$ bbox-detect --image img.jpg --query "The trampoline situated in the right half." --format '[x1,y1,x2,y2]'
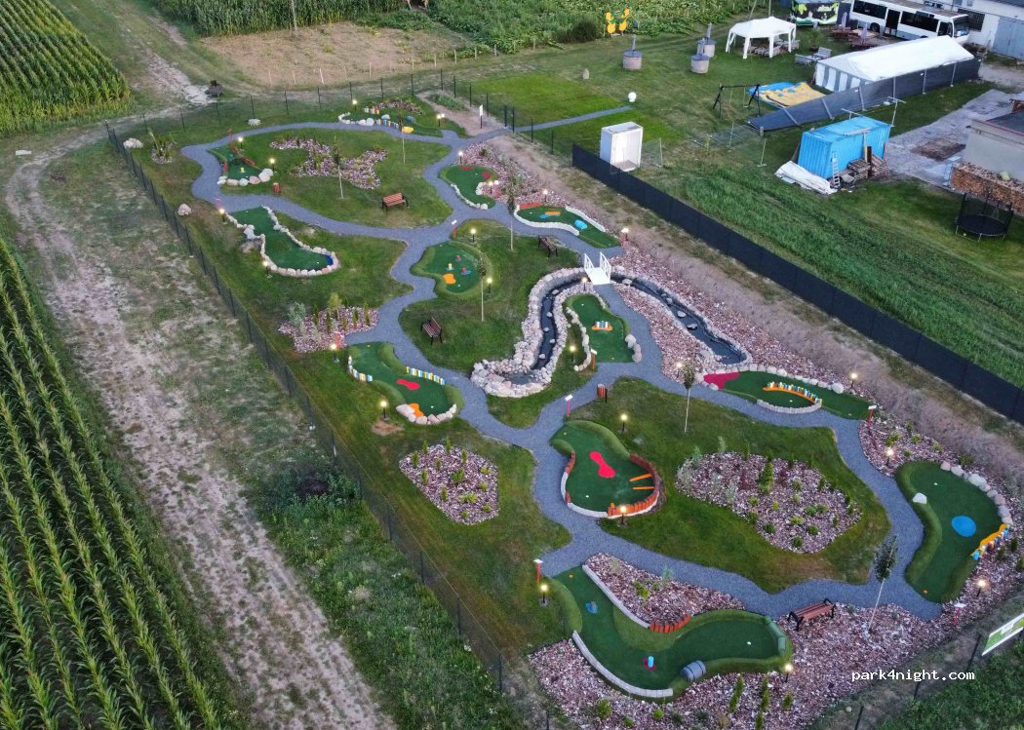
[950,190,1021,247]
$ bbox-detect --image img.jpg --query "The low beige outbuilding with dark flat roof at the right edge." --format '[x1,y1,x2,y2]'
[961,106,1024,181]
